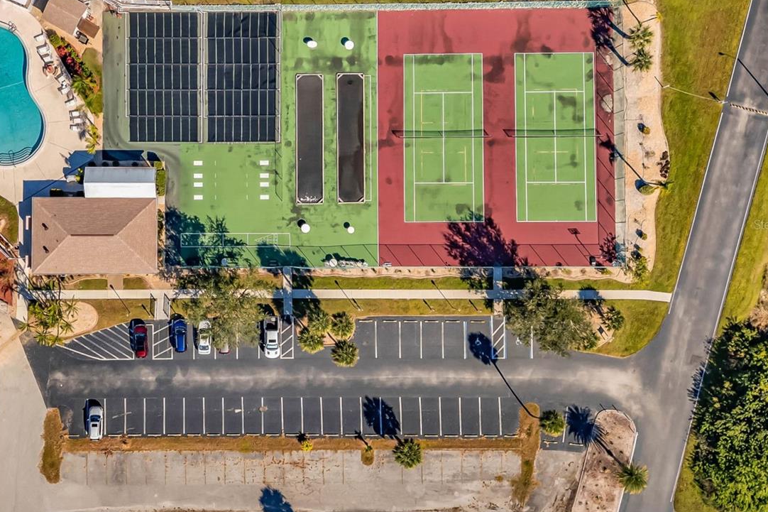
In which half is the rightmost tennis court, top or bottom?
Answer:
top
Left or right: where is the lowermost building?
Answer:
left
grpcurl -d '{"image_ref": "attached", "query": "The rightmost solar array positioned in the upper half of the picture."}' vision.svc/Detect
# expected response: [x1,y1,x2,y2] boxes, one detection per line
[206,11,277,142]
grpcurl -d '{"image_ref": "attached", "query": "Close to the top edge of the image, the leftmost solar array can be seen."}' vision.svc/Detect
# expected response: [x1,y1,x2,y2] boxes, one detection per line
[128,11,200,142]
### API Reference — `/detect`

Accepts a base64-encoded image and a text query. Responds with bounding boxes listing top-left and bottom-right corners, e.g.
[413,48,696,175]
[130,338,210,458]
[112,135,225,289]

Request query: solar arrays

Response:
[128,11,200,142]
[206,11,277,142]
